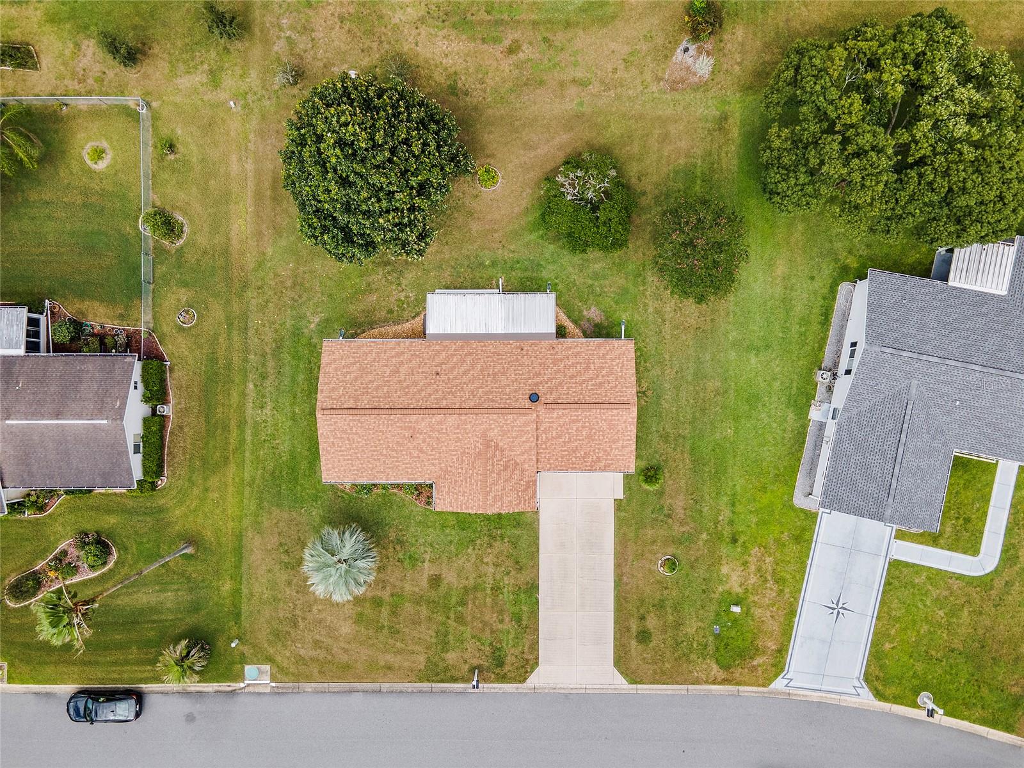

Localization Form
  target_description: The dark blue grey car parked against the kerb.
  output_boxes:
[68,687,141,725]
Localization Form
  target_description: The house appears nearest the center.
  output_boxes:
[317,280,637,514]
